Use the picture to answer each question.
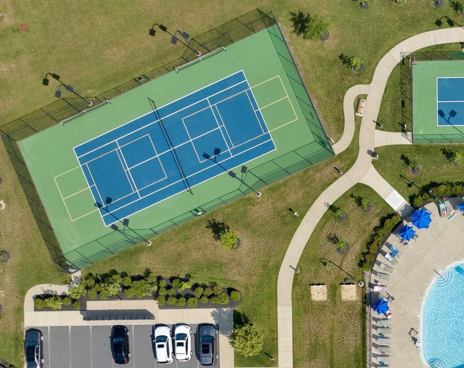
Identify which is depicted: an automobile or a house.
automobile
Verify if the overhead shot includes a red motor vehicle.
No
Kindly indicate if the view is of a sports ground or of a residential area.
sports ground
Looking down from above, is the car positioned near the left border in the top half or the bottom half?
bottom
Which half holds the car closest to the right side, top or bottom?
bottom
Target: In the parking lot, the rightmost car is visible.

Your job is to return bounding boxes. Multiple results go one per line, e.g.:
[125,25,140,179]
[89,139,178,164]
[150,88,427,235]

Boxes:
[196,325,216,364]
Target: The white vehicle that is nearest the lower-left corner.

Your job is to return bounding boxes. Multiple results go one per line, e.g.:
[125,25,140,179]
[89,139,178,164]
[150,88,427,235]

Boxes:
[152,326,173,363]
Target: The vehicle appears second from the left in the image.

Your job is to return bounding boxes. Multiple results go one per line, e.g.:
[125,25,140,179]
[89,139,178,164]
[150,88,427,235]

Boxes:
[109,326,129,363]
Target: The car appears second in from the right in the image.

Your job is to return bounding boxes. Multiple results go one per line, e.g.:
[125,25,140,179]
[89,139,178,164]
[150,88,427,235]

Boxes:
[172,326,191,361]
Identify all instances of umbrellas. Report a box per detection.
[411,208,433,230]
[454,200,464,215]
[372,297,390,315]
[398,222,417,242]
